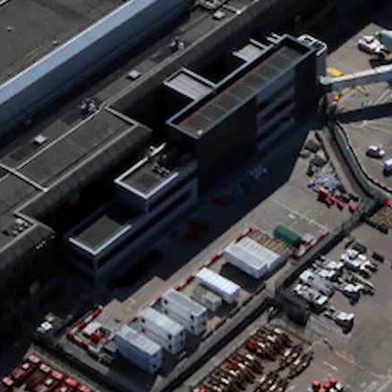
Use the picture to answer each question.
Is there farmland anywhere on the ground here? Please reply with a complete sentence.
No, there's no farmland in this view.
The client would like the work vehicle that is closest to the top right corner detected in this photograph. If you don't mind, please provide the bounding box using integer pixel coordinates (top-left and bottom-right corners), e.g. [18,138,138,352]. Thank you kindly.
[357,34,384,54]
